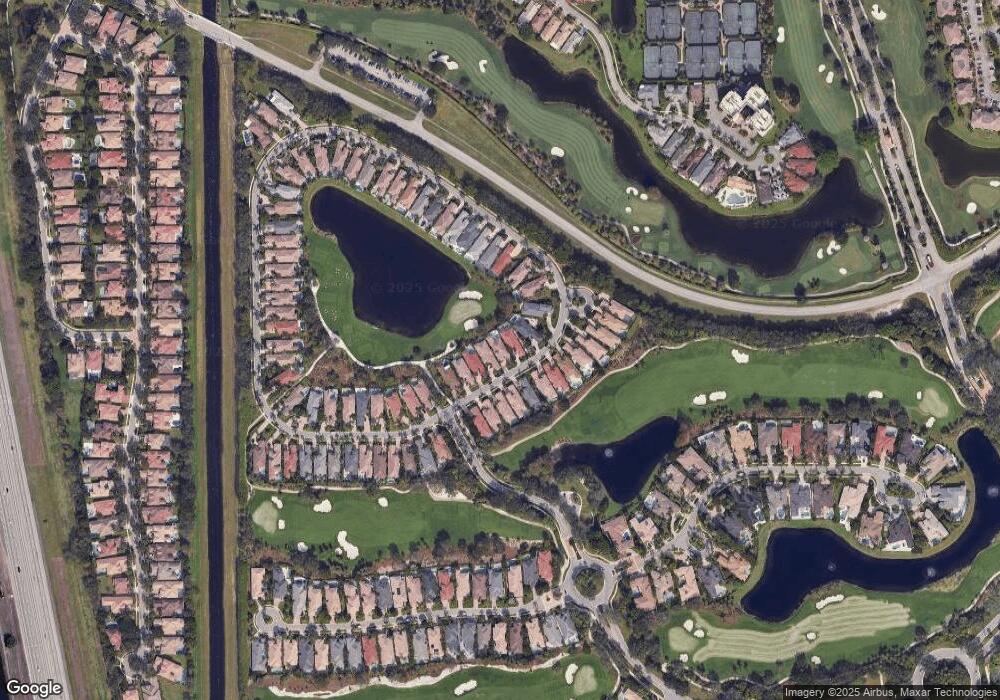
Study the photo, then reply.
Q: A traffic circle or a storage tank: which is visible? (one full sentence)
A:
This aerial view contains a traffic circle.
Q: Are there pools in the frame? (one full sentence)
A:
Yes, there's a pool down there.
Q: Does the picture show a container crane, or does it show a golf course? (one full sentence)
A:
The image shows a golf course.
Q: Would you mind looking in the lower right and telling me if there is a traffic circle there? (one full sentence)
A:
Yes, in the lower right there is a traffic circle.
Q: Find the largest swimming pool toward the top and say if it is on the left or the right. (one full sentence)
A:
The largest swimming pool toward the top is on the right side of the image.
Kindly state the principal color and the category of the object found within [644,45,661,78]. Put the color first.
gray tennis court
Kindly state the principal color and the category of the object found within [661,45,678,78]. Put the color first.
gray tennis court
